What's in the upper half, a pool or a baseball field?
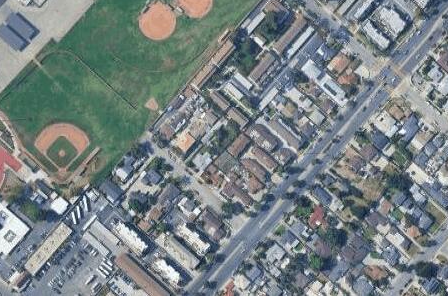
baseball field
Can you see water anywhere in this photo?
No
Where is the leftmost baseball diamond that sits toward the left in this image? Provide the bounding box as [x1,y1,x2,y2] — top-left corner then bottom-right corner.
[18,123,101,186]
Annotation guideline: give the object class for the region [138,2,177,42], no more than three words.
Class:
baseball field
